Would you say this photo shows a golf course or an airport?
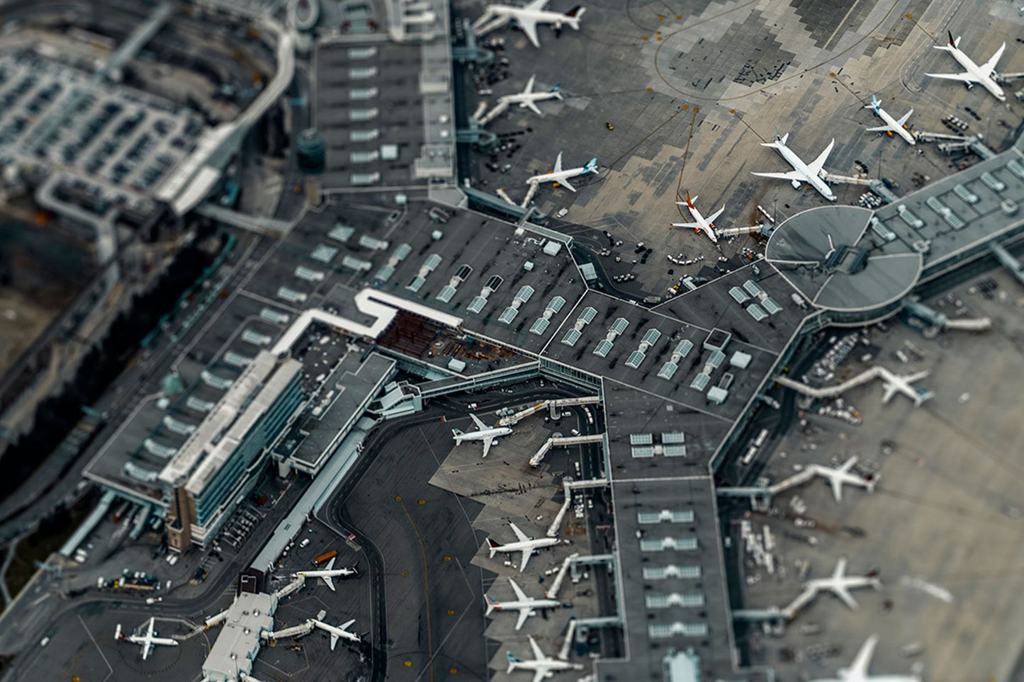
airport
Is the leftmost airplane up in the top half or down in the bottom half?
bottom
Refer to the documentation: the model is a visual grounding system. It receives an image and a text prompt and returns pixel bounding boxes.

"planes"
[865,97,916,145]
[816,455,878,500]
[528,152,596,191]
[490,521,558,569]
[501,75,559,113]
[879,366,932,407]
[307,619,365,649]
[924,32,1007,102]
[293,557,355,590]
[455,414,511,456]
[672,194,724,243]
[806,557,880,608]
[750,129,834,201]
[488,578,558,628]
[505,636,577,682]
[121,619,177,658]
[790,635,912,682]
[492,0,581,44]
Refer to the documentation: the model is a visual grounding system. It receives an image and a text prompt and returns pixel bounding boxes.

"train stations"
[155,127,225,225]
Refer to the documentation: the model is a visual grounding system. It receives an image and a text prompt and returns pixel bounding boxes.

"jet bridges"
[730,585,819,624]
[987,93,1024,107]
[470,7,494,38]
[718,225,769,243]
[519,180,539,224]
[470,100,488,124]
[772,363,881,401]
[990,72,1024,86]
[917,131,990,154]
[471,99,506,132]
[715,463,817,499]
[548,480,608,539]
[992,243,1024,278]
[560,617,622,662]
[820,172,894,202]
[933,139,973,156]
[495,188,515,207]
[906,300,996,334]
[495,397,601,428]
[272,572,306,603]
[531,435,605,469]
[201,610,230,633]
[268,621,314,642]
[464,13,514,50]
[544,554,617,601]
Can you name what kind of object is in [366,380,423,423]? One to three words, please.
building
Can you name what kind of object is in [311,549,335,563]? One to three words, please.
vehicle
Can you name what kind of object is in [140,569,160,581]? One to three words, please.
vehicle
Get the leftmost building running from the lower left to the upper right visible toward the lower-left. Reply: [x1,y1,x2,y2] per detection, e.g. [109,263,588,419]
[60,495,117,564]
